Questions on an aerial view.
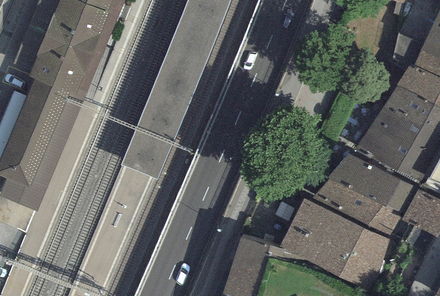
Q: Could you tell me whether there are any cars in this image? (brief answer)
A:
Yes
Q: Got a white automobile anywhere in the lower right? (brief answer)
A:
No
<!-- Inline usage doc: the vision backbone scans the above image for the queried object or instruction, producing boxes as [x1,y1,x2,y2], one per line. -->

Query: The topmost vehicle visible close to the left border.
[4,72,26,88]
